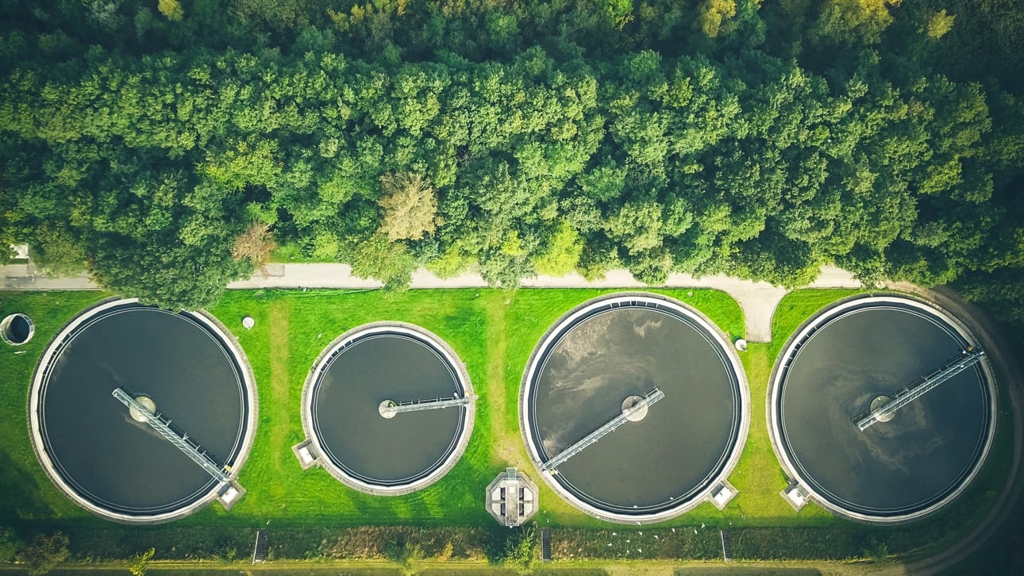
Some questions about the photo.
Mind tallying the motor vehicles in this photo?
0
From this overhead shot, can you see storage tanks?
Yes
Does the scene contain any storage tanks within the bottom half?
Yes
